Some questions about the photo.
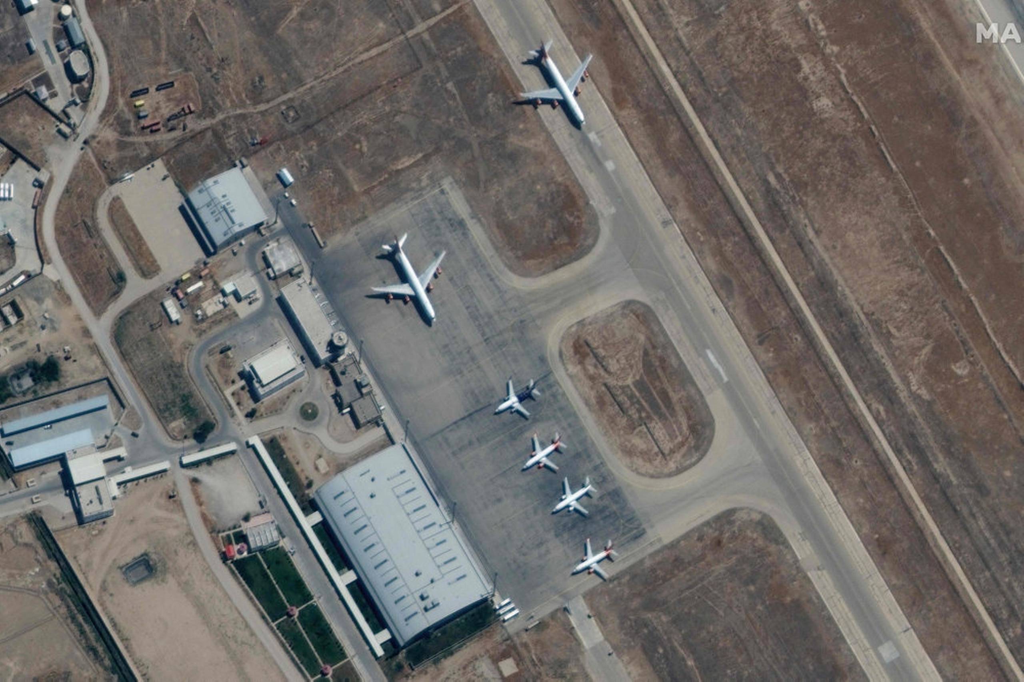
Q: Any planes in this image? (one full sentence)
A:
Yes, the photo shows a plane.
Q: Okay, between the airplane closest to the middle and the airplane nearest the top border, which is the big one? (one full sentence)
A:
The airplane nearest the top border is larger than the airplane closest to the middle.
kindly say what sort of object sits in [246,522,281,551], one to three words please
greenhouse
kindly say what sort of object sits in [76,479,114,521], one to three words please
building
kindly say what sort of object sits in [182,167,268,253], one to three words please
hangar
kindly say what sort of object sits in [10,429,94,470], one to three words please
shed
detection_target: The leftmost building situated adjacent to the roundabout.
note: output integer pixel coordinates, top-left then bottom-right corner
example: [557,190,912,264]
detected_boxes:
[239,338,304,399]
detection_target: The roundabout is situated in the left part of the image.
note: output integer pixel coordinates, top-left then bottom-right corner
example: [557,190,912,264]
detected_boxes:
[291,393,327,429]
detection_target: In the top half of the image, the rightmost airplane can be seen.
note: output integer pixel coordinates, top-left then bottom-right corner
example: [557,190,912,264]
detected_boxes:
[520,43,598,122]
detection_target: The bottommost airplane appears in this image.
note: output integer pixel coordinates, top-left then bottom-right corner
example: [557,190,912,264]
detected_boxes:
[571,540,620,576]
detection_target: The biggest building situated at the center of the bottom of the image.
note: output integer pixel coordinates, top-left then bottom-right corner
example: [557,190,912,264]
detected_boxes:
[314,443,494,650]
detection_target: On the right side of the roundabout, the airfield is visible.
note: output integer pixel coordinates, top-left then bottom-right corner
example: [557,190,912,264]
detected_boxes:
[312,0,1024,682]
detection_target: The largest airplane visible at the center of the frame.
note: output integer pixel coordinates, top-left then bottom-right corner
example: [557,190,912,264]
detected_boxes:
[371,239,449,318]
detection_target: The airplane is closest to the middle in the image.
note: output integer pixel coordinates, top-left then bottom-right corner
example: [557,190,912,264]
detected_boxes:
[495,382,540,415]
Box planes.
[571,540,620,576]
[371,239,449,318]
[520,43,598,122]
[552,477,599,513]
[495,382,540,415]
[522,434,568,469]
